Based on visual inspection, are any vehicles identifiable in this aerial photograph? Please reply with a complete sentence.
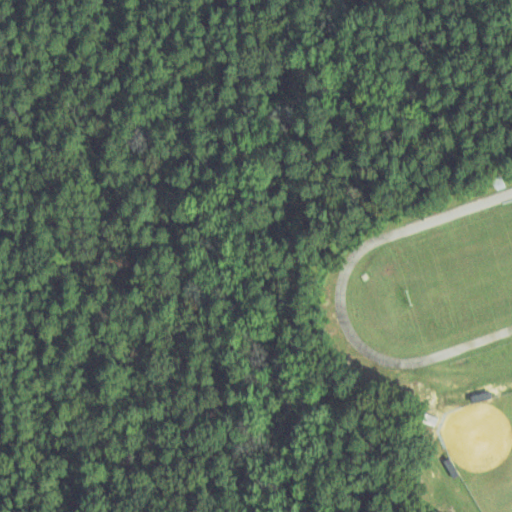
No, no vehicle is visible in the view.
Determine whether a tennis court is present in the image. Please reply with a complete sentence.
No, no tennis court can be seen from above.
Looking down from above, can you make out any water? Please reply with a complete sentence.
No, the picture contains no water.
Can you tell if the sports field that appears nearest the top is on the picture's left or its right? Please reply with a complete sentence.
The sports field that appears nearest the top appears in the right half of the scene.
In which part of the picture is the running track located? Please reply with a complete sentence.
Look in the right portion of the view to spot the running track.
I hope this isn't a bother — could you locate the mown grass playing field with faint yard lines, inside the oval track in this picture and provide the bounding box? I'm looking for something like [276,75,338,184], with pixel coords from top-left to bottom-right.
[345,204,512,360]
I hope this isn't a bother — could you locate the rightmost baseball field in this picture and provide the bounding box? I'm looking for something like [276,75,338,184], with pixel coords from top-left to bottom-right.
[440,390,512,512]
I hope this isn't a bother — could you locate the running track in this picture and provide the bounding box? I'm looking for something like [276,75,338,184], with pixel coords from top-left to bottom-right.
[336,190,512,371]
